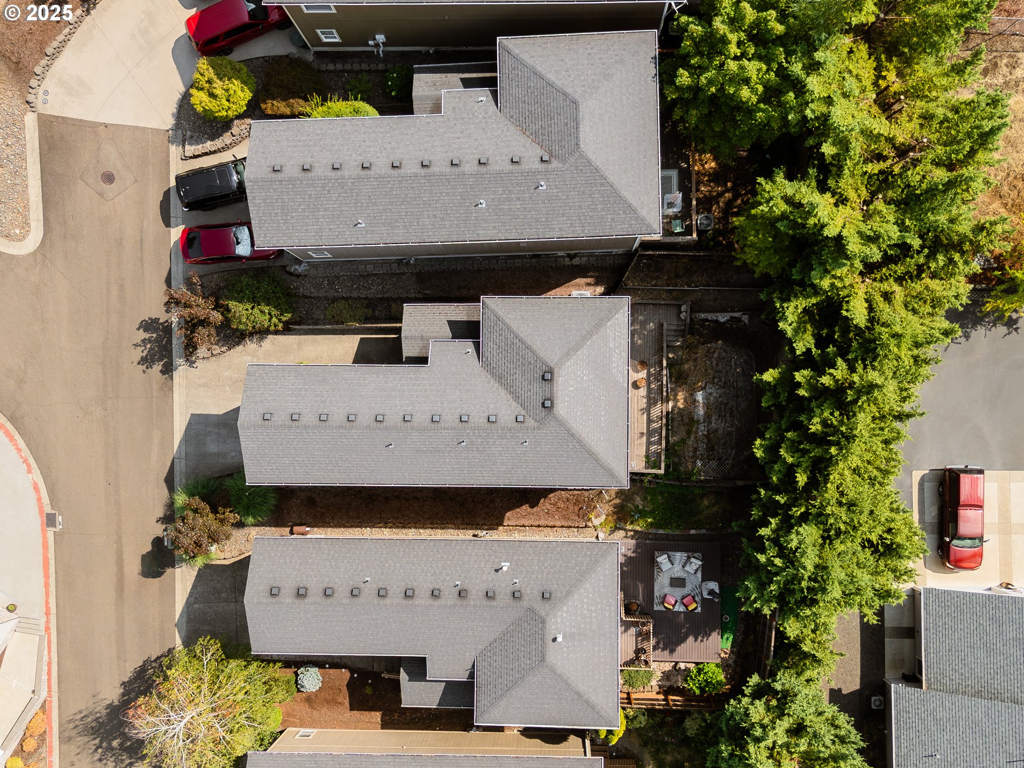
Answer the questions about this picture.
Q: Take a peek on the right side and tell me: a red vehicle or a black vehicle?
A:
red vehicle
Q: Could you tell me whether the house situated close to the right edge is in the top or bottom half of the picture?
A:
bottom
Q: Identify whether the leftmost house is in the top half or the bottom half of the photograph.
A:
bottom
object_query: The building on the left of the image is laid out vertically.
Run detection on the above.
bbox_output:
[0,599,33,671]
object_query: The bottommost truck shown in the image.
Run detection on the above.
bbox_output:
[934,464,993,573]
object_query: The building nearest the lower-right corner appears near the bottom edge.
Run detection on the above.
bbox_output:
[885,585,1024,768]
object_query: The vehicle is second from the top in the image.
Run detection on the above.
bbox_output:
[175,150,245,216]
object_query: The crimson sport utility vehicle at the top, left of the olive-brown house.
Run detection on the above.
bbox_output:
[181,0,291,60]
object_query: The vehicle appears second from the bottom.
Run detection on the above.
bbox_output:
[177,211,265,266]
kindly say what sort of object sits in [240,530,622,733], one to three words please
house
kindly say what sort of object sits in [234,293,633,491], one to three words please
house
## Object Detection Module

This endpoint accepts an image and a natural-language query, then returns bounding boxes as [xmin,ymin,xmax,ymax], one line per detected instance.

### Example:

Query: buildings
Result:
[240,530,622,733]
[0,599,33,671]
[885,585,1024,768]
[240,30,665,264]
[234,293,633,491]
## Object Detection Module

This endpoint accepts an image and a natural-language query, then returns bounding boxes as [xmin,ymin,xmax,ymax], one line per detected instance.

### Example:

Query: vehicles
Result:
[175,150,245,216]
[181,0,291,60]
[177,211,265,266]
[934,464,993,573]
